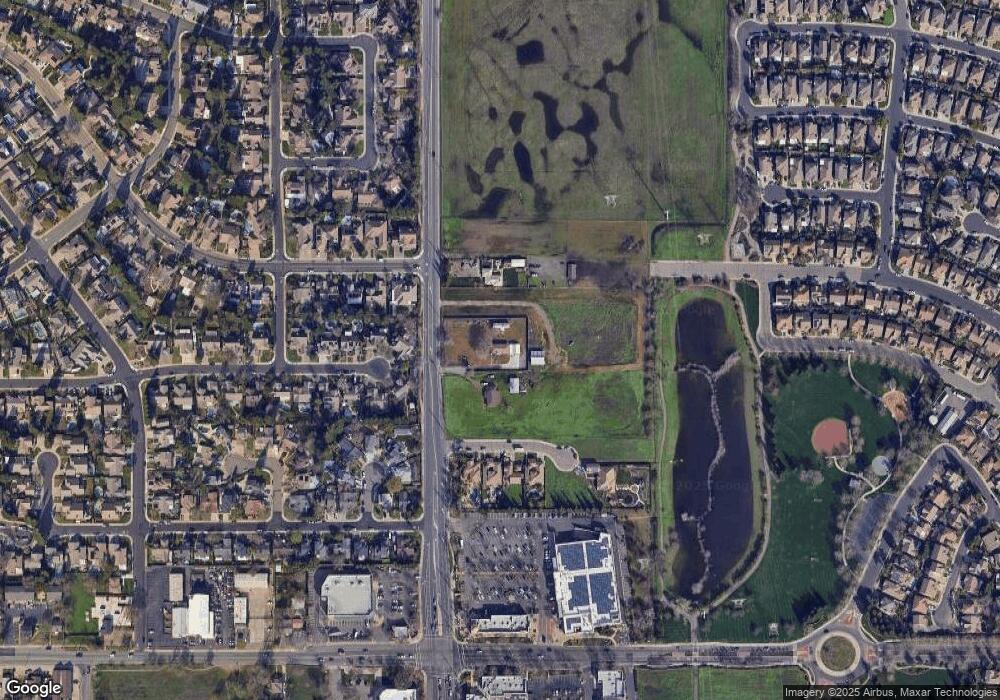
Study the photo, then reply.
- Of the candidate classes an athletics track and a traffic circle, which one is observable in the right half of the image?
traffic circle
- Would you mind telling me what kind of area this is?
residential area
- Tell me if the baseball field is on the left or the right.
right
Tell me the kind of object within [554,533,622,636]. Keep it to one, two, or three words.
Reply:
building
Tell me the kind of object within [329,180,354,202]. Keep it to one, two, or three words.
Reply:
house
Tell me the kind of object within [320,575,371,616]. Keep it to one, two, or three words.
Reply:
building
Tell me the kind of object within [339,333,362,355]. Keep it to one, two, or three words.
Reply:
house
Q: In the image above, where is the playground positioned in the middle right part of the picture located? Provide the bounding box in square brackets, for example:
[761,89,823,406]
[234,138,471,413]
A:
[881,390,909,423]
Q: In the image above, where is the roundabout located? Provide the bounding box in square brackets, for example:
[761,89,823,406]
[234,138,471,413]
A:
[798,610,876,690]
